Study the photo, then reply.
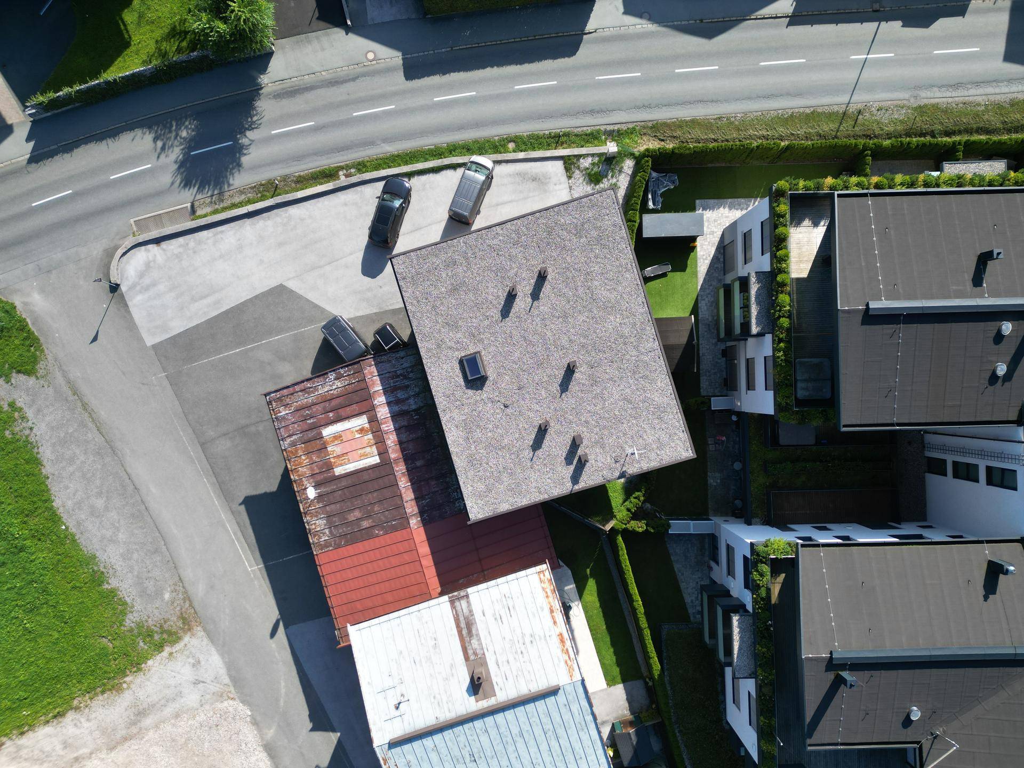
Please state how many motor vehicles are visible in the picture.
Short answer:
4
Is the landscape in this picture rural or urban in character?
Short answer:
urban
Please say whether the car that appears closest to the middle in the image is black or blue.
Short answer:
black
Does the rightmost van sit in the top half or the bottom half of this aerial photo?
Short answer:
top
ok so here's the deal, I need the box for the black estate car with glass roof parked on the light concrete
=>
[364,176,409,252]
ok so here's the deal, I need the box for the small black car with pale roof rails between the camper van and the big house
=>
[375,321,416,354]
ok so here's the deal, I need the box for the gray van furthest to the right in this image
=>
[448,152,494,228]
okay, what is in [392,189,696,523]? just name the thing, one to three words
house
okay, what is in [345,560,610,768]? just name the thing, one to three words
house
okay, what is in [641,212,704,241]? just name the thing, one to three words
shed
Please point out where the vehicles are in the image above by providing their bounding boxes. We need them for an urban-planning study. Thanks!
[375,321,416,354]
[322,315,378,365]
[448,152,494,228]
[364,176,409,252]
